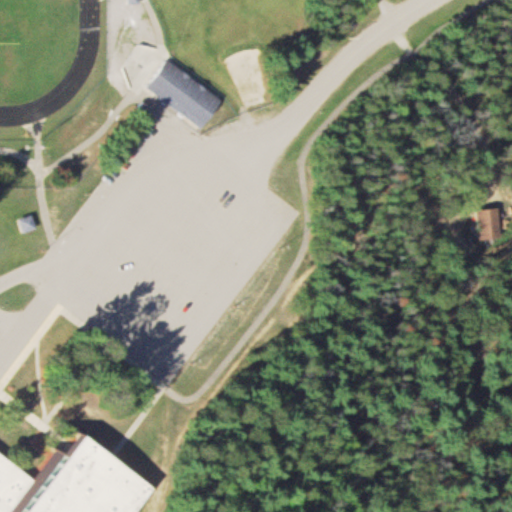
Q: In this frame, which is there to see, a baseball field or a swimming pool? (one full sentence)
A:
I can see a baseball field in this picture.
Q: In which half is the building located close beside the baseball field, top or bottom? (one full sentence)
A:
You can find the building located close beside the baseball field in the top half.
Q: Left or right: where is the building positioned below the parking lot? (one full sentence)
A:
The building positioned below the parking lot sits on the left side.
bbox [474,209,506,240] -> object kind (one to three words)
house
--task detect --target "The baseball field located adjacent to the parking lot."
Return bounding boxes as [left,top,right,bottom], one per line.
[224,48,266,108]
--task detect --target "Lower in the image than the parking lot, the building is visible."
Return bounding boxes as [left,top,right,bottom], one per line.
[0,434,156,512]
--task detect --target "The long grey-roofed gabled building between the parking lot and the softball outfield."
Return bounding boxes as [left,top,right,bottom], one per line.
[148,61,221,130]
